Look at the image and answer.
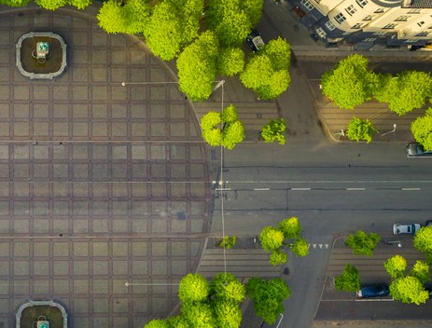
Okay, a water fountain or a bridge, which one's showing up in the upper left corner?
water fountain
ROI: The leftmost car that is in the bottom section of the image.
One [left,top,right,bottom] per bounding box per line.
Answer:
[355,282,390,299]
